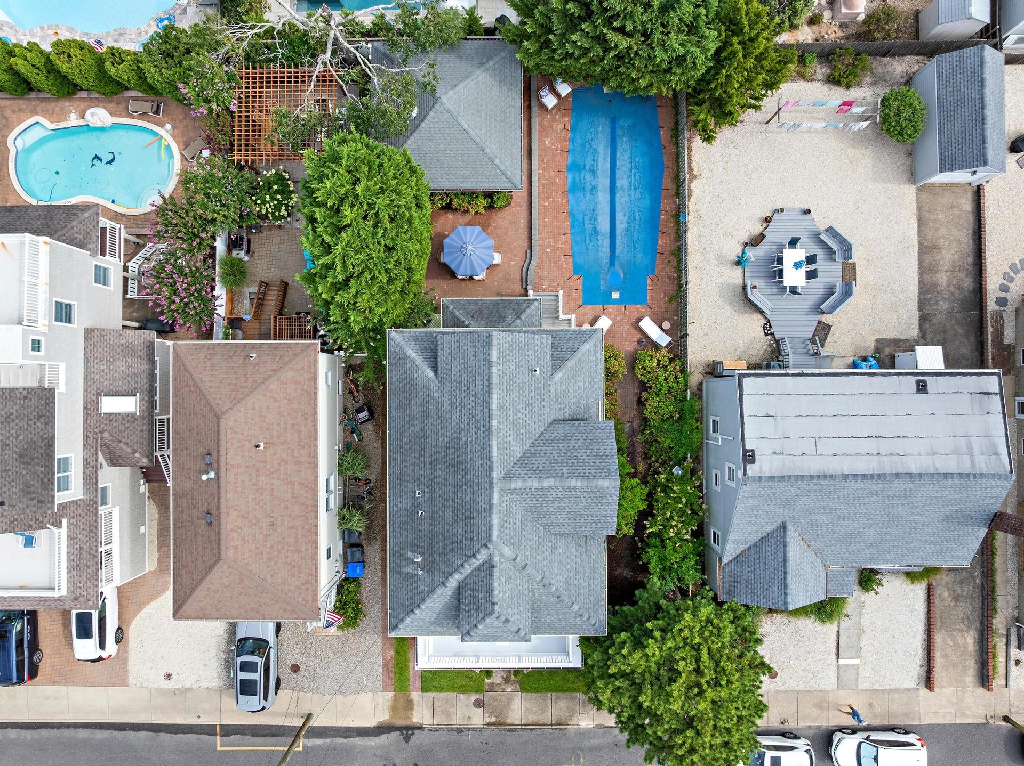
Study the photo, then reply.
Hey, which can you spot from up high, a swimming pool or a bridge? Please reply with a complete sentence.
Visible in the photo is a swimming pool.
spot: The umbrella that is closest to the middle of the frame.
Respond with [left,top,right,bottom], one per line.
[445,227,492,274]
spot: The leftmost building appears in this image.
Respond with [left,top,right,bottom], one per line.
[0,204,175,610]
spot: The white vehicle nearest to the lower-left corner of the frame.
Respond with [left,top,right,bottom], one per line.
[68,586,123,665]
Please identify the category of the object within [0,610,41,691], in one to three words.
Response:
car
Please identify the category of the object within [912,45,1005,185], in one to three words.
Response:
shed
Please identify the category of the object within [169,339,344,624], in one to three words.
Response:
house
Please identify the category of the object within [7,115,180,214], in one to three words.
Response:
swimming pool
